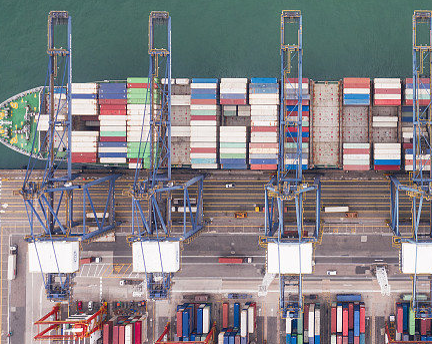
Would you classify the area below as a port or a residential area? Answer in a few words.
port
